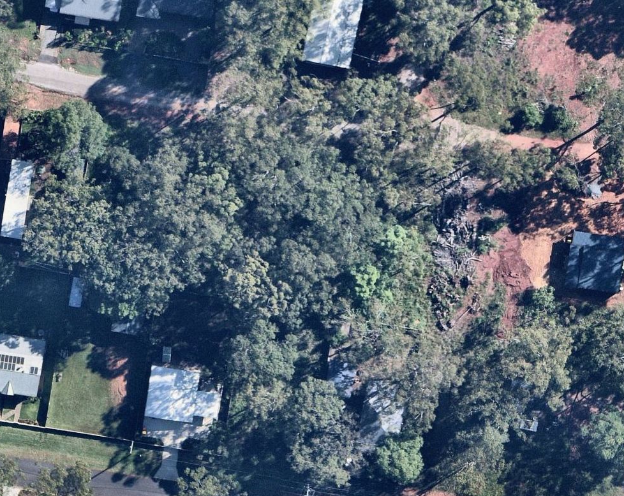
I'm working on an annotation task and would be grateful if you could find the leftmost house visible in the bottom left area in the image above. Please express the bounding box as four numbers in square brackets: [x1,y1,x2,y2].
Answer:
[0,333,47,397]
